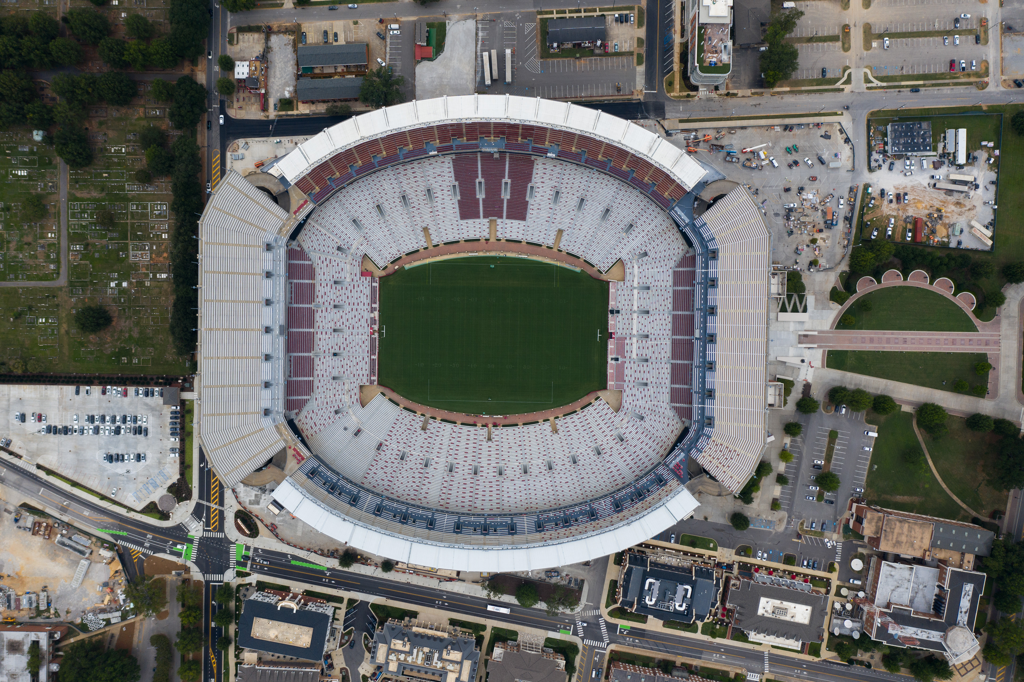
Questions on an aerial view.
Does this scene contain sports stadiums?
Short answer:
Yes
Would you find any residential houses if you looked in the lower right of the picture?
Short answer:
Yes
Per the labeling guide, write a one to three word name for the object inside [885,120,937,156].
building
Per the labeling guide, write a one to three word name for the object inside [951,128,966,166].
building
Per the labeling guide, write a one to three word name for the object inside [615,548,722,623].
house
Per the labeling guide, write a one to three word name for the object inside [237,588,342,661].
house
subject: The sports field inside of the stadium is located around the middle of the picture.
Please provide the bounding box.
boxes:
[378,257,608,416]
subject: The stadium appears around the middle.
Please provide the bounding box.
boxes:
[189,91,778,574]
